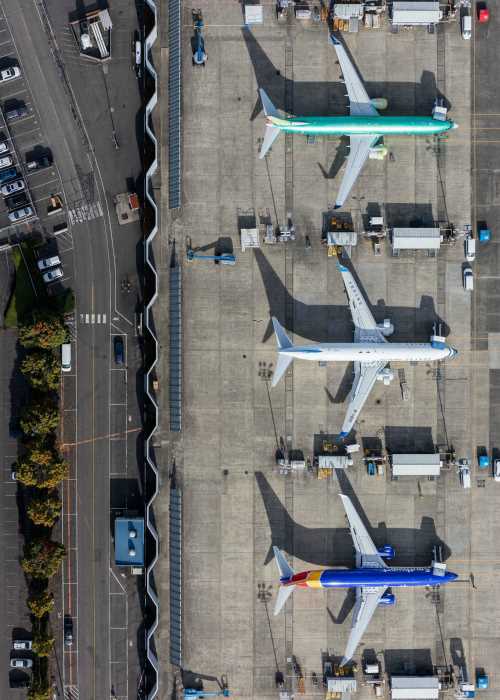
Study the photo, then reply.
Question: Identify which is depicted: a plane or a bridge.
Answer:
plane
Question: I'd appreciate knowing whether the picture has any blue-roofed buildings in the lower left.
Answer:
Yes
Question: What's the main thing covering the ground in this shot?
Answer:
paved ground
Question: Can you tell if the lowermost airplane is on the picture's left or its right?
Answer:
right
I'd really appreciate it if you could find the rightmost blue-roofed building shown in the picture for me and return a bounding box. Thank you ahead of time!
[115,519,145,565]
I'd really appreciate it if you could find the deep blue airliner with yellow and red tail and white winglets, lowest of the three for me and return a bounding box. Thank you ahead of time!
[273,492,458,664]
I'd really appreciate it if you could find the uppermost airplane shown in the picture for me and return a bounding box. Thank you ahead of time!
[259,36,457,210]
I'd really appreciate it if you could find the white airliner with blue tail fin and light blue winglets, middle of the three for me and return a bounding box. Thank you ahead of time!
[272,265,457,437]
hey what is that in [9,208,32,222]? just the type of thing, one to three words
car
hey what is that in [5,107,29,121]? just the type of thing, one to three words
vehicle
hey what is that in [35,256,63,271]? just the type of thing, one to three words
vehicle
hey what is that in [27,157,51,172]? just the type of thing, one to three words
car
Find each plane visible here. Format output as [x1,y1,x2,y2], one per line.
[273,492,458,664]
[259,36,457,210]
[272,265,457,437]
